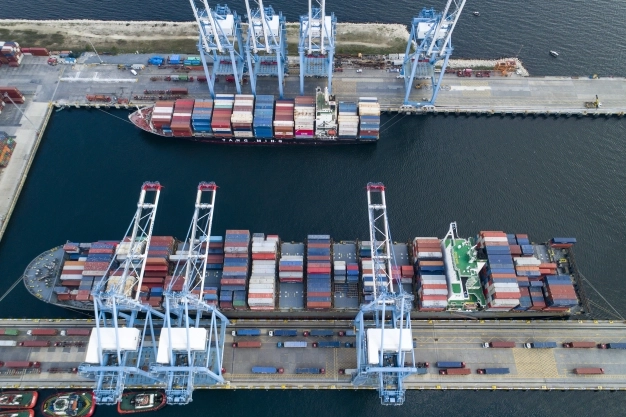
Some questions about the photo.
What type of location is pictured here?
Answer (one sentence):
It's a port.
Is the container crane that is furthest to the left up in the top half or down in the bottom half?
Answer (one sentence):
You can find the container crane that is furthest to the left in the bottom half.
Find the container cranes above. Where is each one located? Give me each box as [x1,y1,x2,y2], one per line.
[75,179,182,400]
[190,0,248,102]
[395,0,461,105]
[244,0,290,103]
[343,179,422,400]
[295,0,337,103]
[147,179,238,400]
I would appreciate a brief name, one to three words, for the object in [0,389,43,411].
boat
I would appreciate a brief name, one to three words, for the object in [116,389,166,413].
boat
